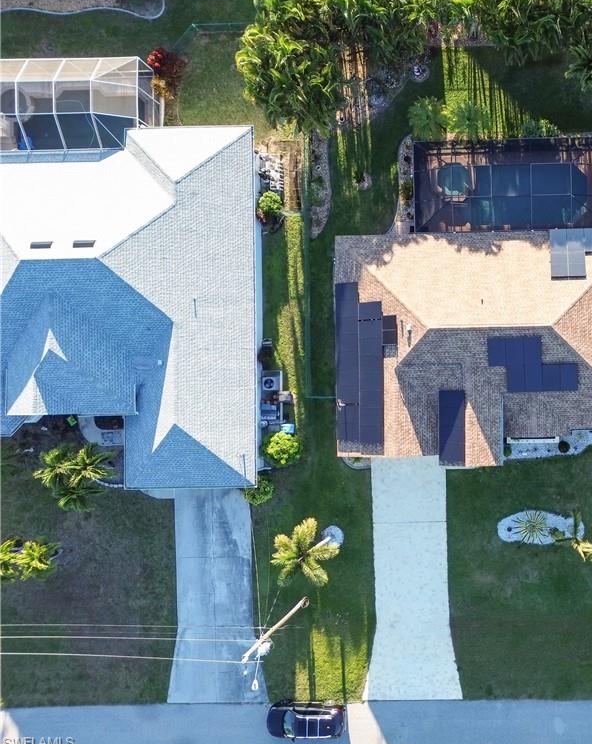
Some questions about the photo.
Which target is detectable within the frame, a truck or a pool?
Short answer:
pool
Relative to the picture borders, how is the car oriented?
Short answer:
from left to right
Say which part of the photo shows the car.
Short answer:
bottom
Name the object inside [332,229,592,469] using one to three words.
house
